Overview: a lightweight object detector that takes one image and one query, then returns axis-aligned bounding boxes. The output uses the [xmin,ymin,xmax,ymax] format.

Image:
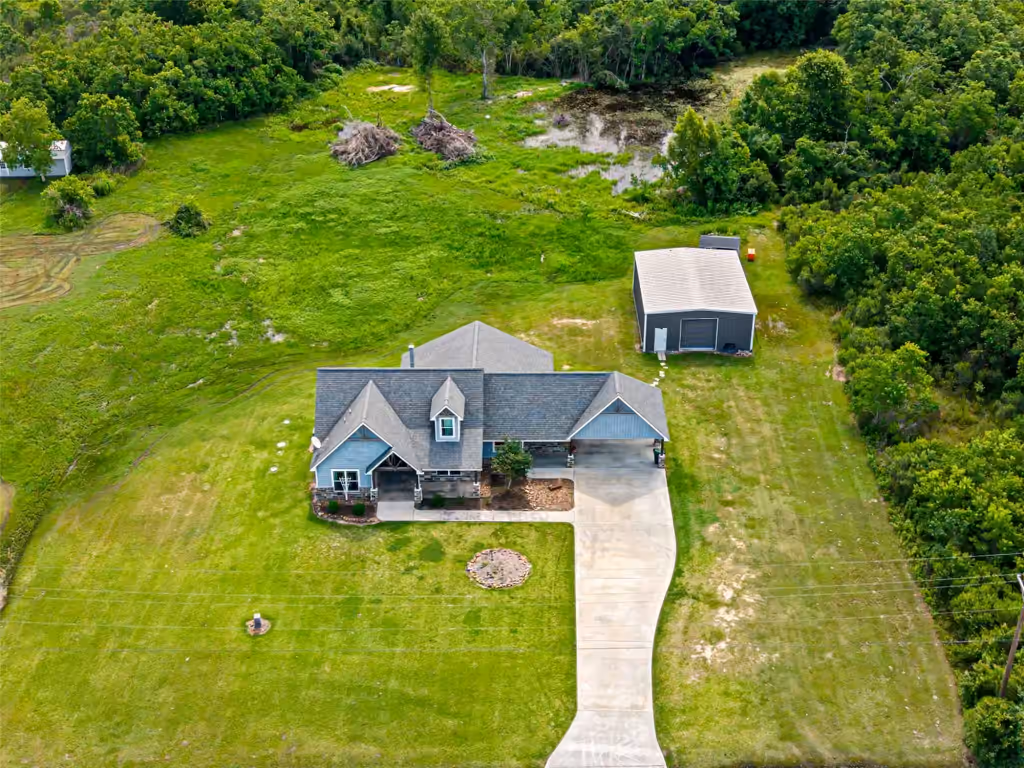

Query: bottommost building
[309,321,671,503]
